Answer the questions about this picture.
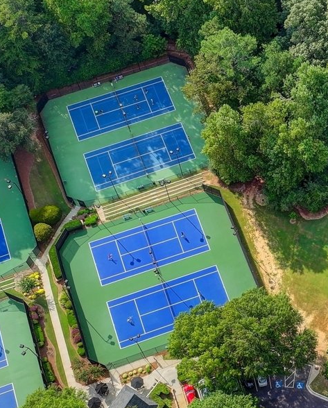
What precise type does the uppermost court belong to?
tennis court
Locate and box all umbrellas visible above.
[94,383,109,397]
[129,375,144,391]
[88,397,102,408]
